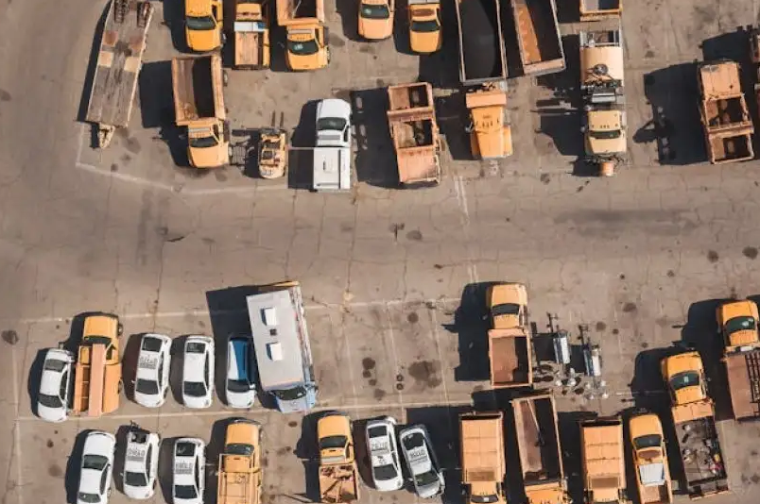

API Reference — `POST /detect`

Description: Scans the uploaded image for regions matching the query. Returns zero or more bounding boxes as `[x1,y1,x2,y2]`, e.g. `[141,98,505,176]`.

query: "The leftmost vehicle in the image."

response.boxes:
[33,347,80,422]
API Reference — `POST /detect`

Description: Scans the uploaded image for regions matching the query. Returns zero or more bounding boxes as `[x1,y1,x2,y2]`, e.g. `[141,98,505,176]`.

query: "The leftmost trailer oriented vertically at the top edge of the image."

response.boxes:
[88,0,155,150]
